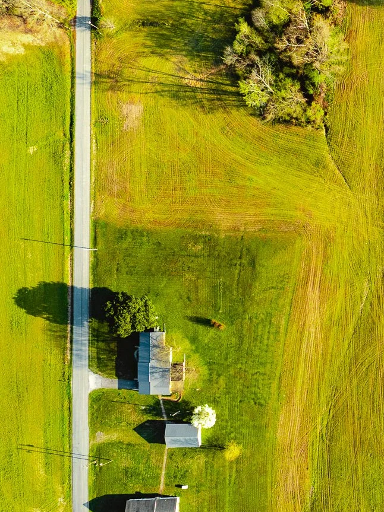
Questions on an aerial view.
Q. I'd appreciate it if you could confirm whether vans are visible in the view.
No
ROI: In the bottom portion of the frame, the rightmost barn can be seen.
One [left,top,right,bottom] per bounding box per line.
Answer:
[163,423,202,447]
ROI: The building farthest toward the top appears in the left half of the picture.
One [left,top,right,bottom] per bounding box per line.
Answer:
[134,325,172,396]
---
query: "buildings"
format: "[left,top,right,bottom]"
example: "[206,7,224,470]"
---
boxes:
[163,423,202,447]
[134,325,172,396]
[125,495,182,512]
